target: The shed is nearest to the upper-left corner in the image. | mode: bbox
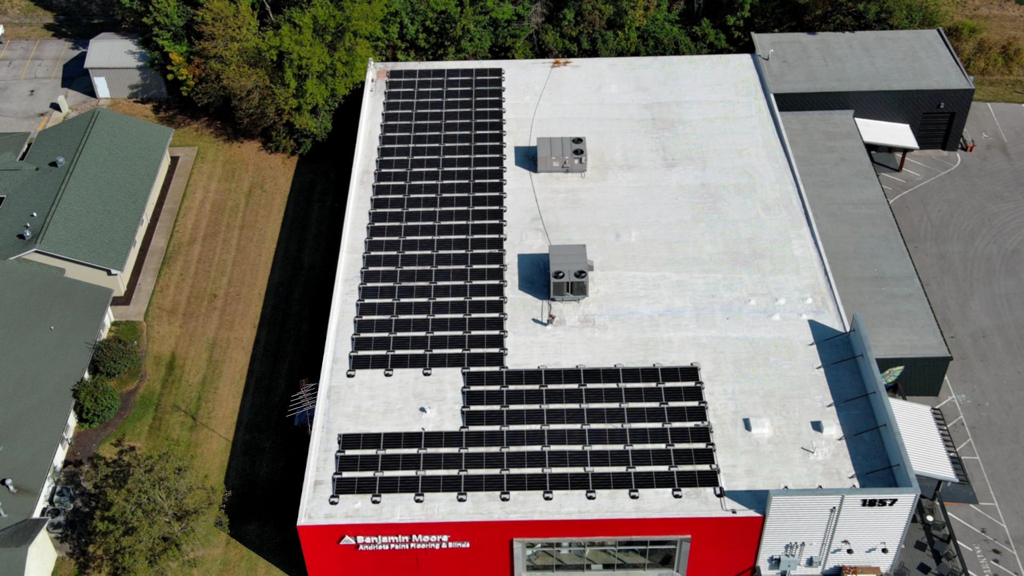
[83,31,178,98]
